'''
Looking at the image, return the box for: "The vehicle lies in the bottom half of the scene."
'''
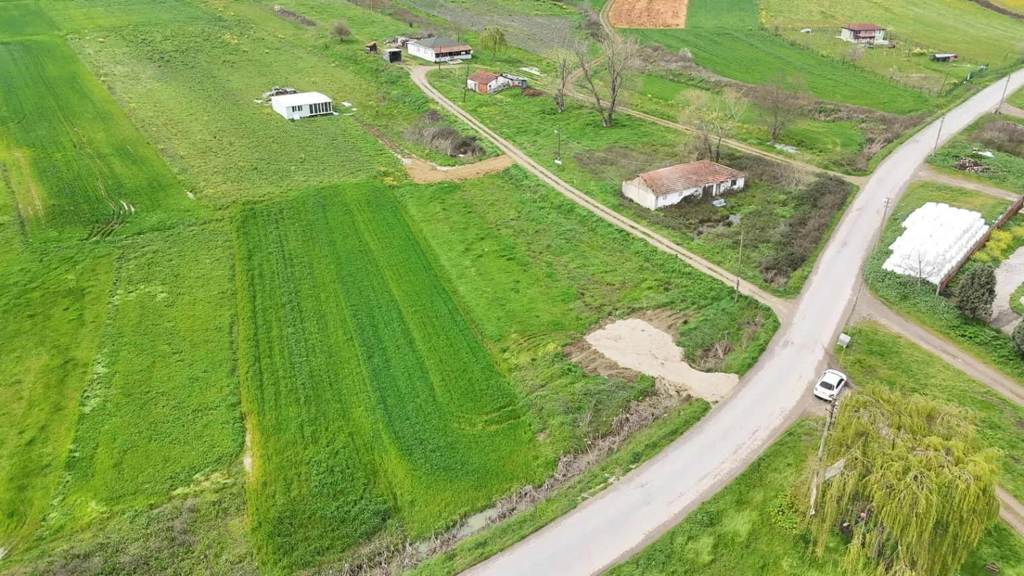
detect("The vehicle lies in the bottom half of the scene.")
[811,366,850,400]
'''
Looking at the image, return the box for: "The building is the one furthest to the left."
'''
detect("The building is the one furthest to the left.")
[272,89,335,119]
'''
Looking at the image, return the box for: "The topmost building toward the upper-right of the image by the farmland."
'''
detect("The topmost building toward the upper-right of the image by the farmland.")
[841,19,890,44]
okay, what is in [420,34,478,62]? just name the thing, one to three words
house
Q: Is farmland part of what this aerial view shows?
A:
Yes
